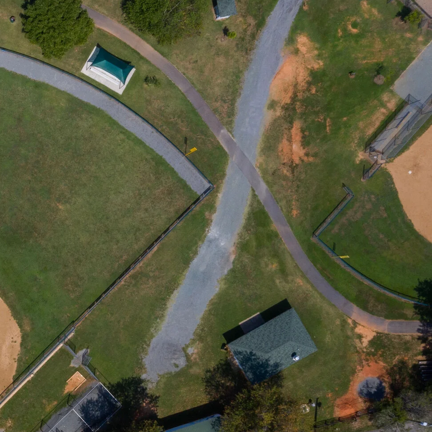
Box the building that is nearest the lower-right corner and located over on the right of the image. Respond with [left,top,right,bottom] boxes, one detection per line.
[221,308,318,385]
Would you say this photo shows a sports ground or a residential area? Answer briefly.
sports ground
